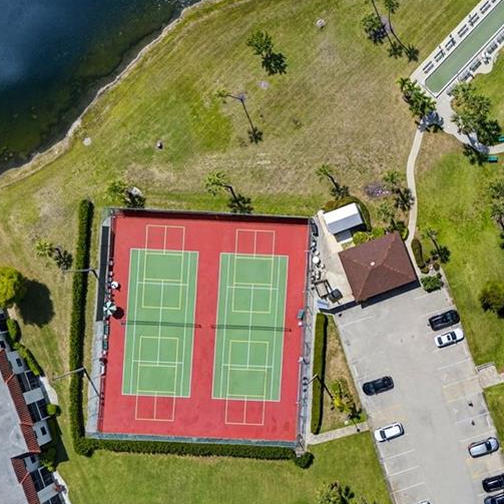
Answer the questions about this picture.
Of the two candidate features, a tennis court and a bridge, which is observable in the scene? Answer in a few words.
tennis court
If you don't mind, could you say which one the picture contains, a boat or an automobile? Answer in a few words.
automobile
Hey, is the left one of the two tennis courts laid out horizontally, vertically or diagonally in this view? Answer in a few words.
vertically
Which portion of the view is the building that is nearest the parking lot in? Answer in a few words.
right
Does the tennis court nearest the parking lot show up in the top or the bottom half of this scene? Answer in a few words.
bottom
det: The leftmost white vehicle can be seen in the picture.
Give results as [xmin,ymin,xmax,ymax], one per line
[374,422,404,441]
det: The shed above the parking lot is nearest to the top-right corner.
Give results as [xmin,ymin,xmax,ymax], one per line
[323,203,362,234]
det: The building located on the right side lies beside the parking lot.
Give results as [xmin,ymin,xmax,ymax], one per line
[338,232,419,302]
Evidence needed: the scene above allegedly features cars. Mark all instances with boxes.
[374,422,404,441]
[481,472,504,492]
[427,310,460,329]
[362,375,394,394]
[433,329,464,347]
[482,491,504,504]
[467,435,499,455]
